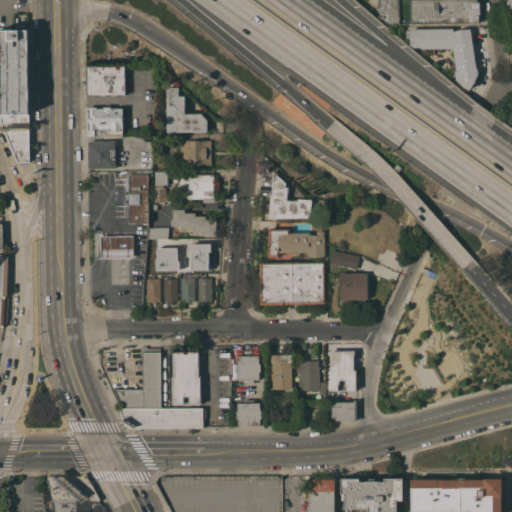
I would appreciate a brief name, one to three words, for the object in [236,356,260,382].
building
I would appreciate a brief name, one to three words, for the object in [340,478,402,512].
building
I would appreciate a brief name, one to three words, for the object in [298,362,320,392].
house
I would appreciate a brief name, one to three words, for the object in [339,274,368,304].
house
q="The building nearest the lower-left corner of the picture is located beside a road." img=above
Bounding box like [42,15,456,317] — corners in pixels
[50,478,88,512]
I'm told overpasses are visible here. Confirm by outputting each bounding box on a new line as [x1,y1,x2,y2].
[326,118,474,272]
